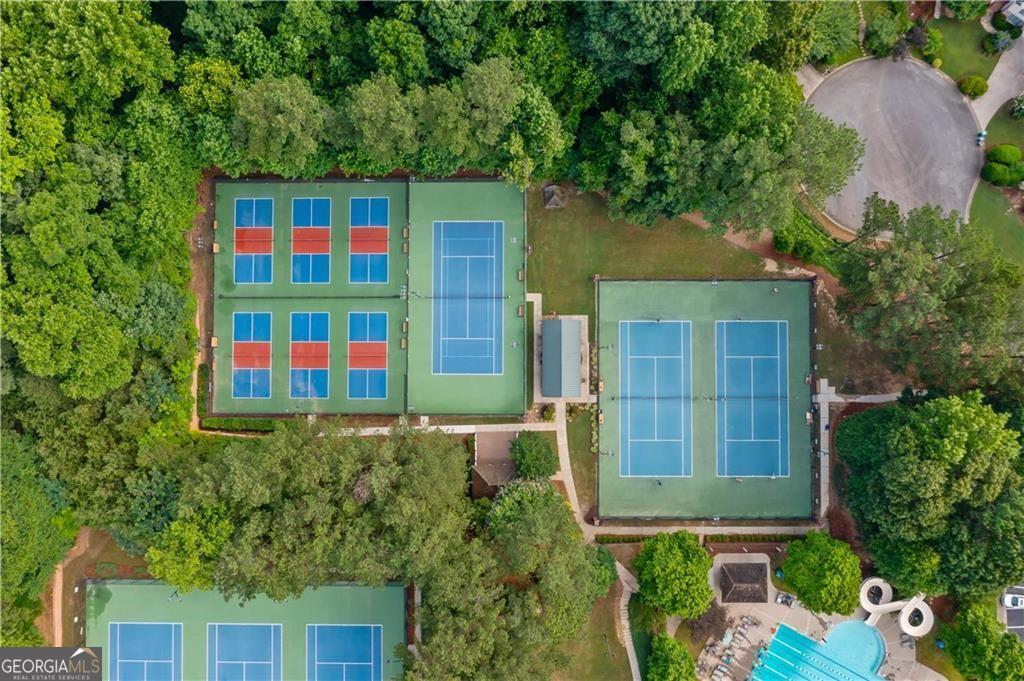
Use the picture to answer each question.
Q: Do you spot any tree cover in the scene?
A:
Yes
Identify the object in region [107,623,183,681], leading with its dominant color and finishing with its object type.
blue tennis court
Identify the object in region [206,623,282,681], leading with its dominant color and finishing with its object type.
blue tennis court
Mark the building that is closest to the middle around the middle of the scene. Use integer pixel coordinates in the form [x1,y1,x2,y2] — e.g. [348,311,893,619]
[541,319,581,398]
